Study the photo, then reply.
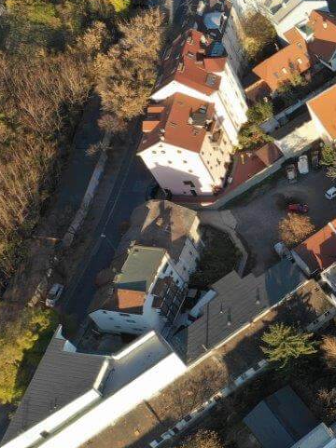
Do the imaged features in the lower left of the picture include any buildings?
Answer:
Yes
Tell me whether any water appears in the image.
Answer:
No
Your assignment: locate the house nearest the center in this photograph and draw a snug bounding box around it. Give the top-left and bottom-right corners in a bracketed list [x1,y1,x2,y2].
[117,200,211,284]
